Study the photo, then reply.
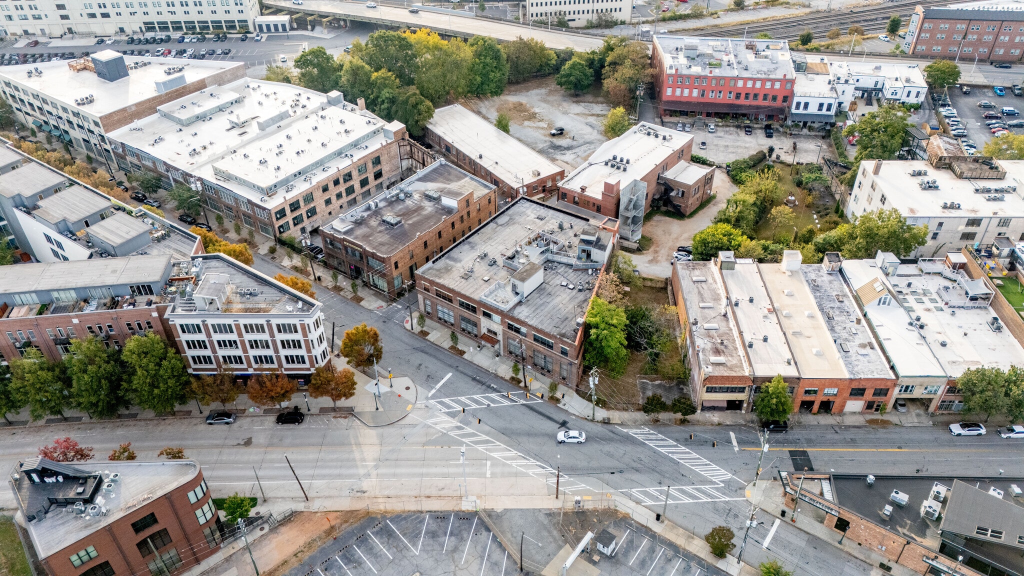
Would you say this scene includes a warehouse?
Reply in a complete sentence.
Yes, the image includes a warehouse.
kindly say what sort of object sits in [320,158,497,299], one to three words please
warehouse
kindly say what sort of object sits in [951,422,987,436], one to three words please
car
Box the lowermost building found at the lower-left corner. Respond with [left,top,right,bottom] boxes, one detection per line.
[8,456,229,576]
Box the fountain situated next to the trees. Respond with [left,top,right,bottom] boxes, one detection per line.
[776,189,804,208]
